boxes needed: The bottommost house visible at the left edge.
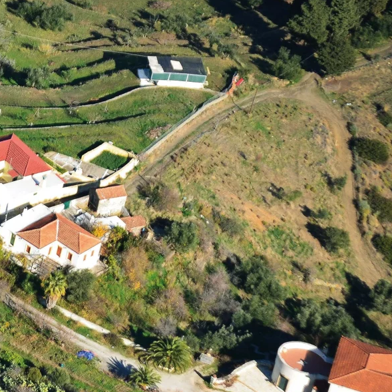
[0,195,102,268]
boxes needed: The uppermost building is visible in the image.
[138,55,208,90]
